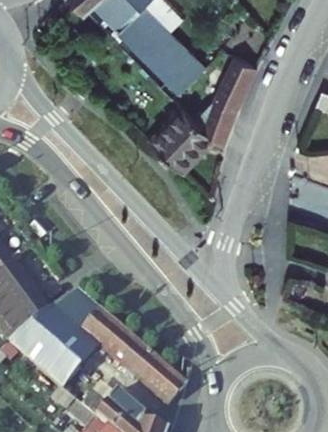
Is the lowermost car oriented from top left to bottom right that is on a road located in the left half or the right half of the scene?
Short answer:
left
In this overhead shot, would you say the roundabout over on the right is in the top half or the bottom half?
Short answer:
bottom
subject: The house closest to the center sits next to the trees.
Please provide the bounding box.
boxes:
[149,118,210,178]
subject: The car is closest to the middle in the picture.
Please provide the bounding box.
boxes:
[69,178,88,199]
